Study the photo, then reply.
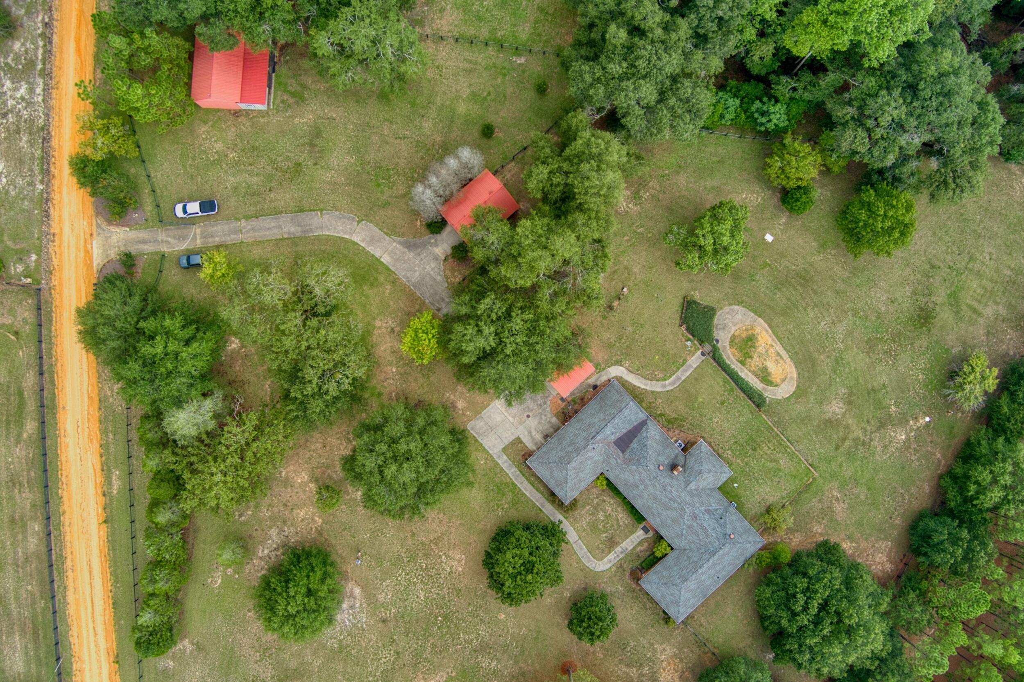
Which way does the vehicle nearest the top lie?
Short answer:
horizontally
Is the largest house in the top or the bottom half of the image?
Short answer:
bottom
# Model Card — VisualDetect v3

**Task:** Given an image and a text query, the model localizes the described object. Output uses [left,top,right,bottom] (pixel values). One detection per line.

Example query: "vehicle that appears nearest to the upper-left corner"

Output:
[173,199,221,219]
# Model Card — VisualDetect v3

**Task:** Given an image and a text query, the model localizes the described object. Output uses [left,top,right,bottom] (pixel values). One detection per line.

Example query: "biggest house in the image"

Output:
[526,379,766,624]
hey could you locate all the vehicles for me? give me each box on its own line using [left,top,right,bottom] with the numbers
[178,253,221,270]
[173,199,221,219]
